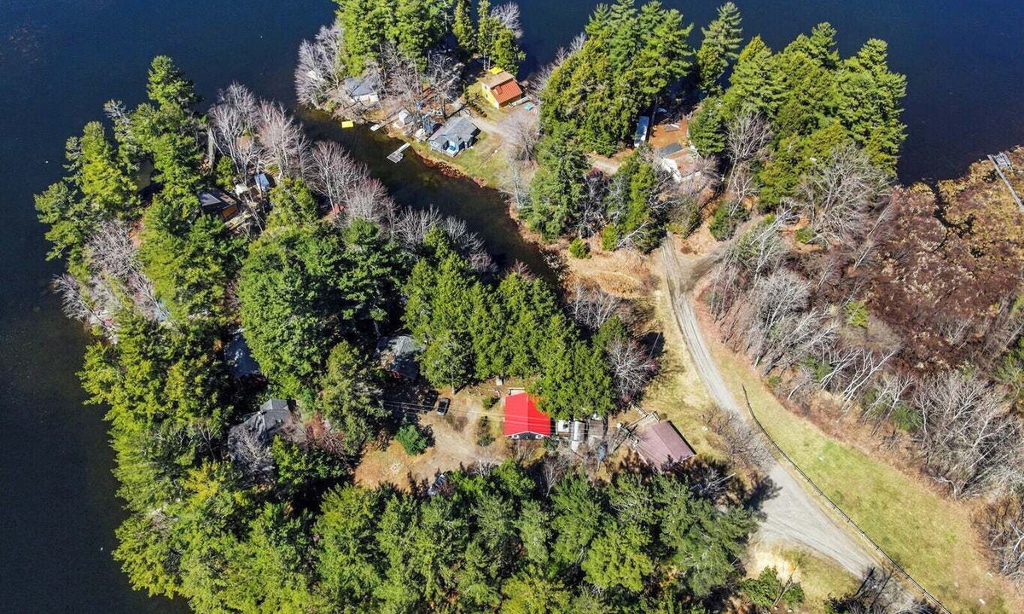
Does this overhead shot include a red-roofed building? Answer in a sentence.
Yes, you can see a red-roofed building in this photo.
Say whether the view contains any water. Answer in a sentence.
Yes, some water is visible.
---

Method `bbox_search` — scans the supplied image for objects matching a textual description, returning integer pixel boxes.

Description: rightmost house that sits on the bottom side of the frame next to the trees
[624,415,695,477]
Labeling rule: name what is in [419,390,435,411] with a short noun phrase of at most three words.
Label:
car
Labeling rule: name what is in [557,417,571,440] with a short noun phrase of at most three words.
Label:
camper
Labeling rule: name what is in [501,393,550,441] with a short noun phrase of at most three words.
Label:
house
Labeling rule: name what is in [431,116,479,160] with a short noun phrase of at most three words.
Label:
house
